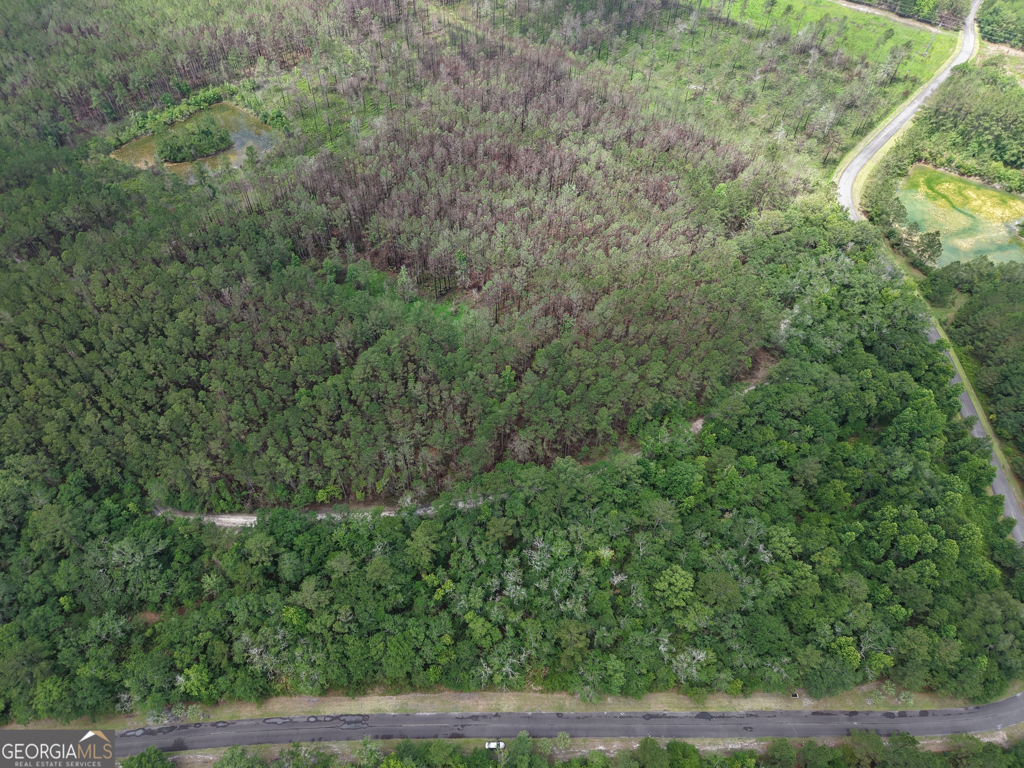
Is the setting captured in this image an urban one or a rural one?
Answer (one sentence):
It looks rural.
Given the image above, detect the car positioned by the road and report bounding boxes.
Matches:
[485,736,506,750]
